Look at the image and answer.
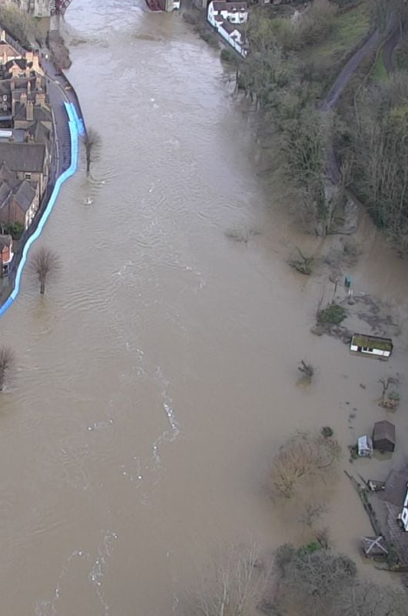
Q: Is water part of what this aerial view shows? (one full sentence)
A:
Yes, water can be seen from above here.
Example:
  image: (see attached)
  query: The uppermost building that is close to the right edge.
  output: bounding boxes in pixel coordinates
[349,328,395,361]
